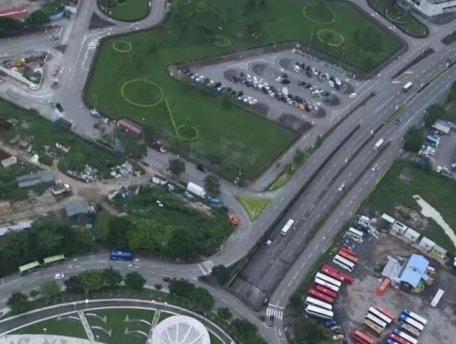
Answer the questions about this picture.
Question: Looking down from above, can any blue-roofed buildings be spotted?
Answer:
Yes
